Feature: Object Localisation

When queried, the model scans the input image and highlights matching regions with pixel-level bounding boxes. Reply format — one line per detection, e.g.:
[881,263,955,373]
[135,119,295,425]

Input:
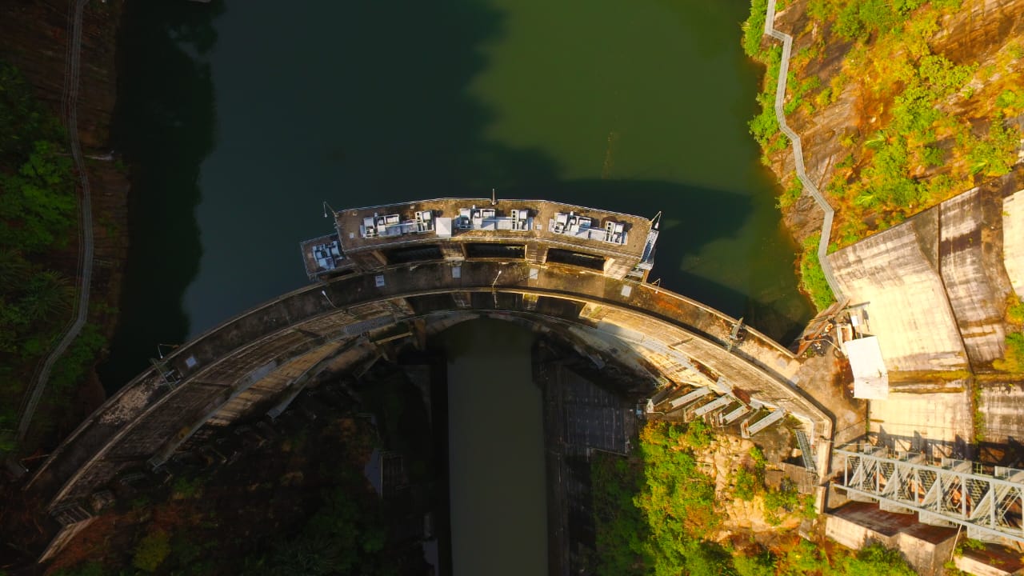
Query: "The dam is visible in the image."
[27,258,834,562]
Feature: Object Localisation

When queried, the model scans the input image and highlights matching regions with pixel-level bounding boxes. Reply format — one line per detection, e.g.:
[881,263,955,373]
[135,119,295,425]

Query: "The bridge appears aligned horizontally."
[811,442,1024,547]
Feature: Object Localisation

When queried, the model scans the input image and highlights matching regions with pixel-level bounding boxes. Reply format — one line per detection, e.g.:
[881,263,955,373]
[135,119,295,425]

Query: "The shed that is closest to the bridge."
[839,336,888,399]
